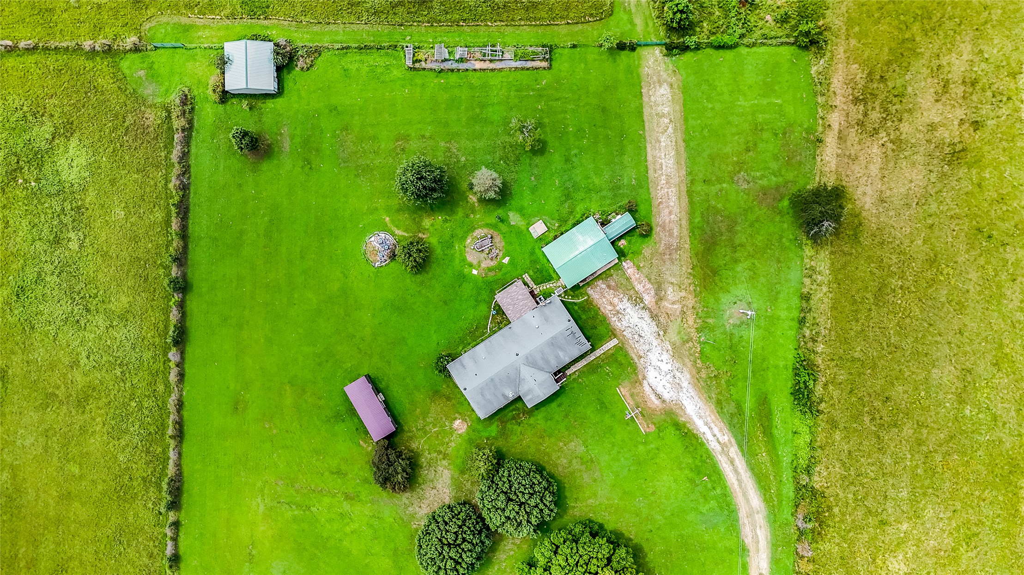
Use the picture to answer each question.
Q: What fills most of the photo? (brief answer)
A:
grass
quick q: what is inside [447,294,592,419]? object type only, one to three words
house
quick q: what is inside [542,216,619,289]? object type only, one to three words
building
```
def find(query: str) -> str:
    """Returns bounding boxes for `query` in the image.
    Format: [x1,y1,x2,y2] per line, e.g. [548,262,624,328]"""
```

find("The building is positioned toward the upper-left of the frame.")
[224,39,278,93]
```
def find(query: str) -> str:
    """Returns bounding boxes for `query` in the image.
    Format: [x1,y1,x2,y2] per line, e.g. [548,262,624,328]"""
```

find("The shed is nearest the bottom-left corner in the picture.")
[343,376,399,442]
